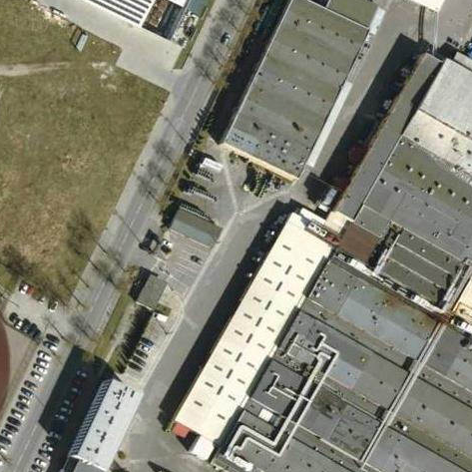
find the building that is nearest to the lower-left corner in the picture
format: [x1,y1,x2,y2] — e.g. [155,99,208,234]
[68,379,145,472]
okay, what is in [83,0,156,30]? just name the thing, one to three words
building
